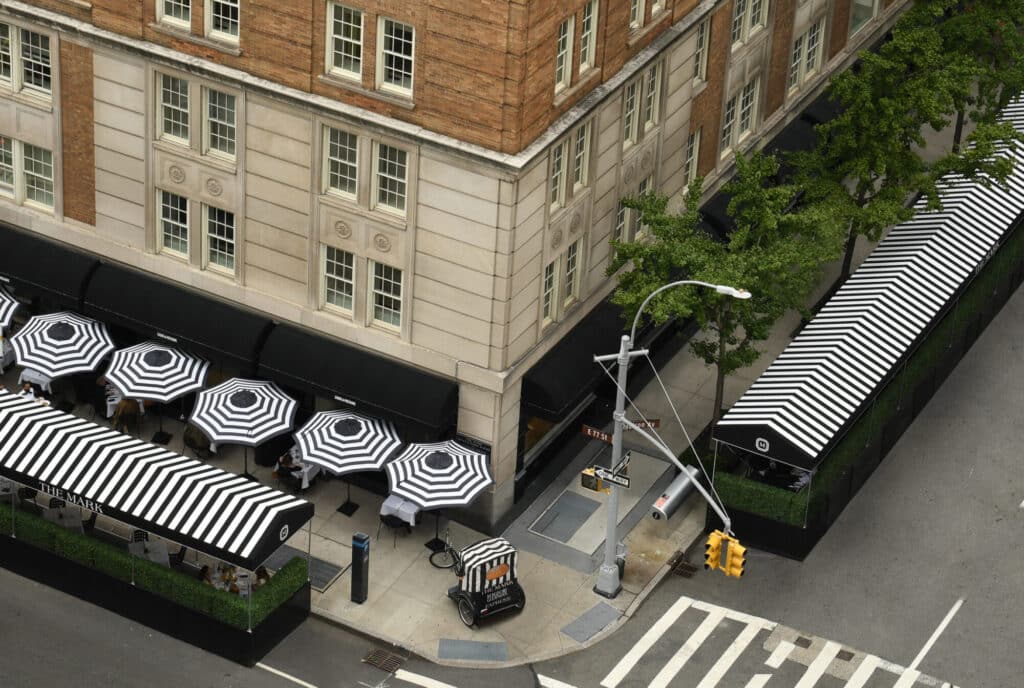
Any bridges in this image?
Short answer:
No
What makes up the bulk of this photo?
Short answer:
buildings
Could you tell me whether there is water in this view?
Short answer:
No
